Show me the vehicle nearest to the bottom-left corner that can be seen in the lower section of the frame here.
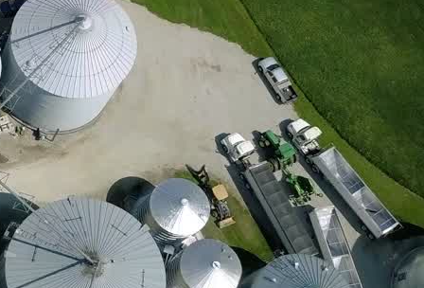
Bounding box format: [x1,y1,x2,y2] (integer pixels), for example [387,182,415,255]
[182,167,237,233]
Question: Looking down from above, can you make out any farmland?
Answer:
Yes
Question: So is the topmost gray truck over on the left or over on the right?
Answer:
right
